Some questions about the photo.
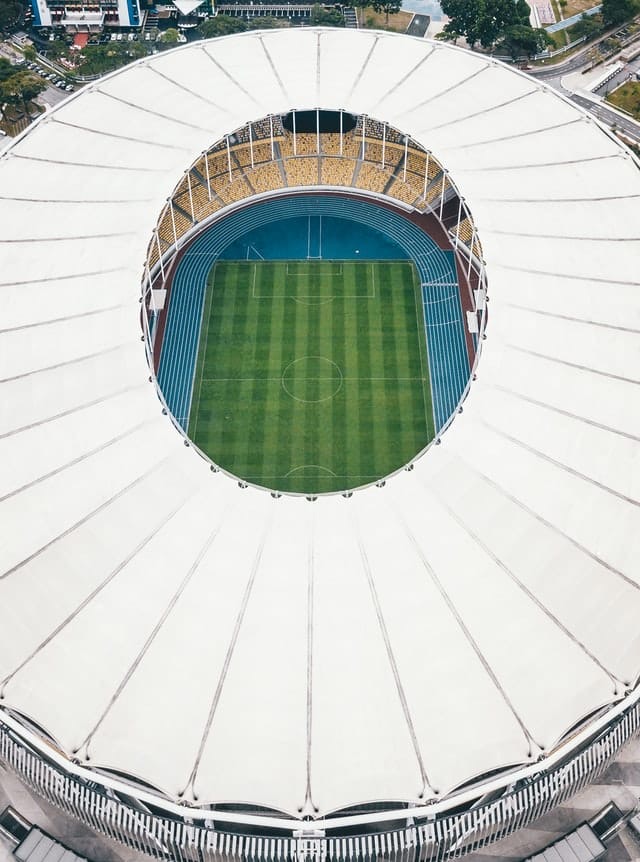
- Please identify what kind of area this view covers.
sports ground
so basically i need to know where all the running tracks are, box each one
[142,195,485,449]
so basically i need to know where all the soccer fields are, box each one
[186,257,437,504]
